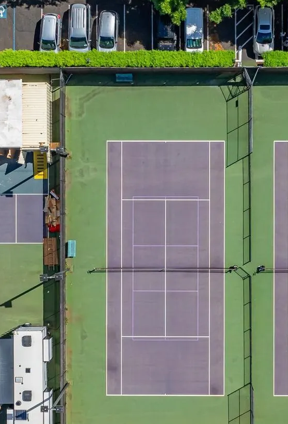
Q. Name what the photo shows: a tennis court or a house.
tennis court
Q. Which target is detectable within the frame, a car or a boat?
car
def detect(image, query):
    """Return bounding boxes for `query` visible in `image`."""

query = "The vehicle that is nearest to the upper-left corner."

[38,12,62,54]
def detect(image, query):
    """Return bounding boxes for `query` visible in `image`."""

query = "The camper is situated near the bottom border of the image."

[0,322,55,424]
